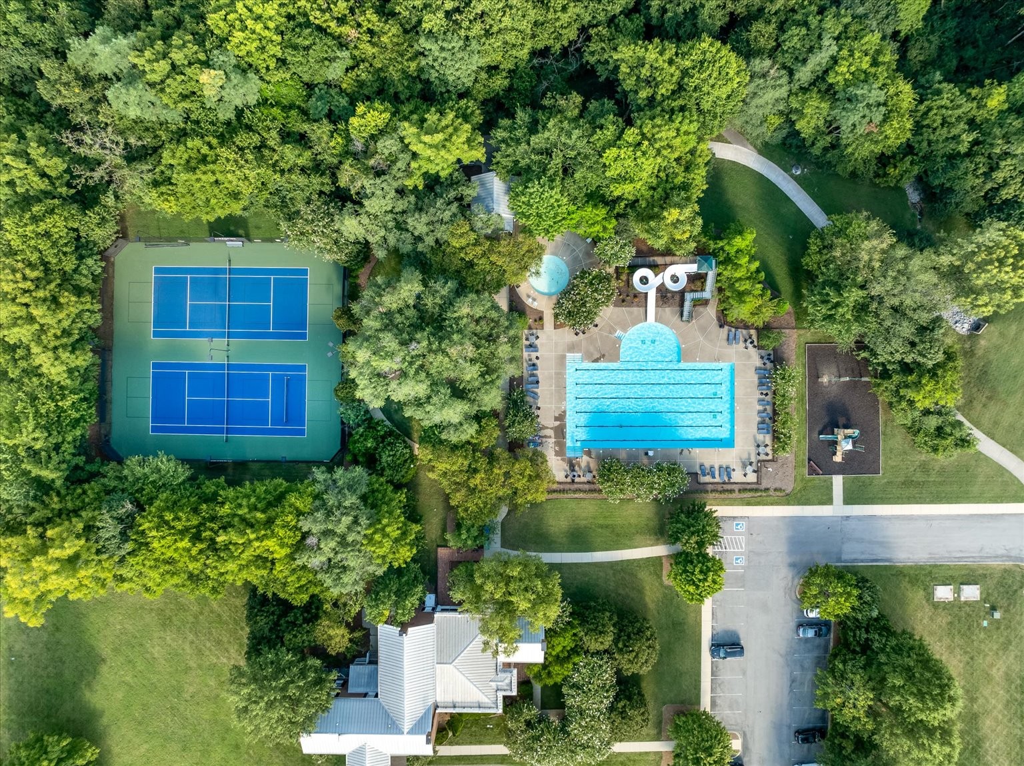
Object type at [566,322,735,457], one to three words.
swimming pool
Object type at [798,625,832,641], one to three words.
car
